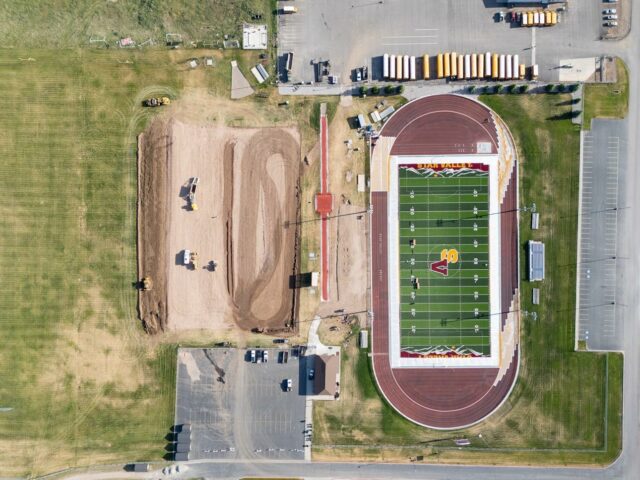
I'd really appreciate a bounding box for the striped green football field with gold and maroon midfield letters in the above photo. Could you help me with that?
[388,155,501,368]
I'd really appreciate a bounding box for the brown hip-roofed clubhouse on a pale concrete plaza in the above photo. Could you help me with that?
[310,356,338,397]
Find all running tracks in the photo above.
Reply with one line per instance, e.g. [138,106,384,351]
[369,94,519,431]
